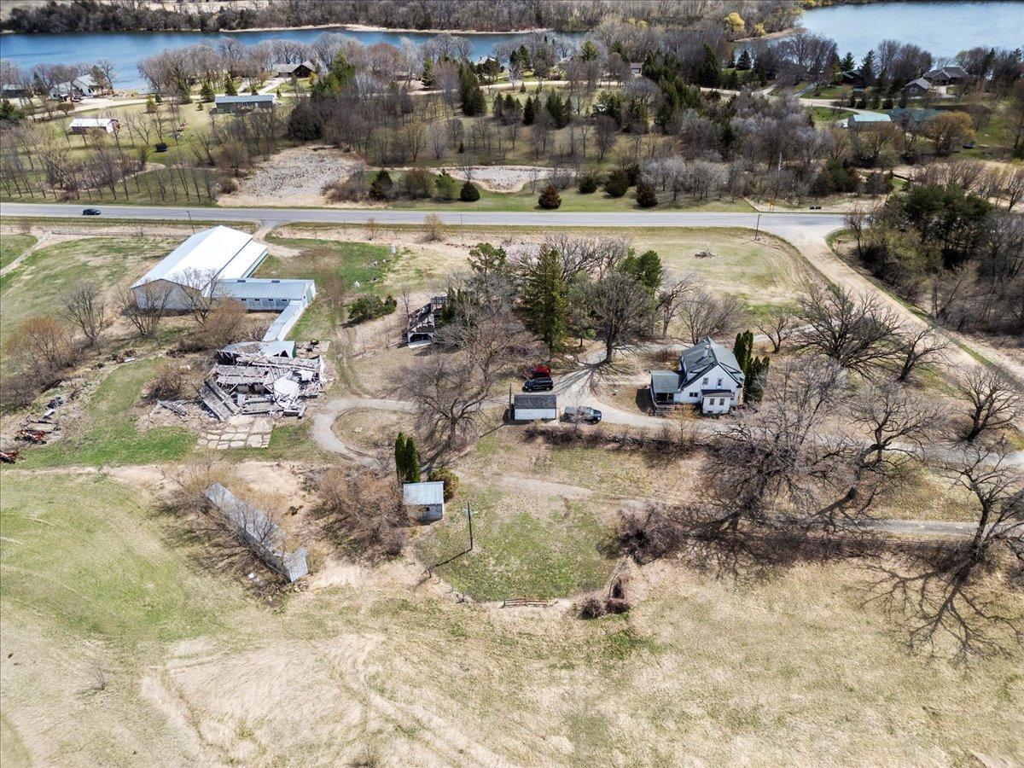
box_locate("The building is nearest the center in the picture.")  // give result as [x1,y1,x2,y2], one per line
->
[512,392,557,420]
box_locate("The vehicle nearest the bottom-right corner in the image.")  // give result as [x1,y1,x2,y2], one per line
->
[564,407,601,424]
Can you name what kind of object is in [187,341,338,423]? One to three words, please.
barn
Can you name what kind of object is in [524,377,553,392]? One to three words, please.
car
